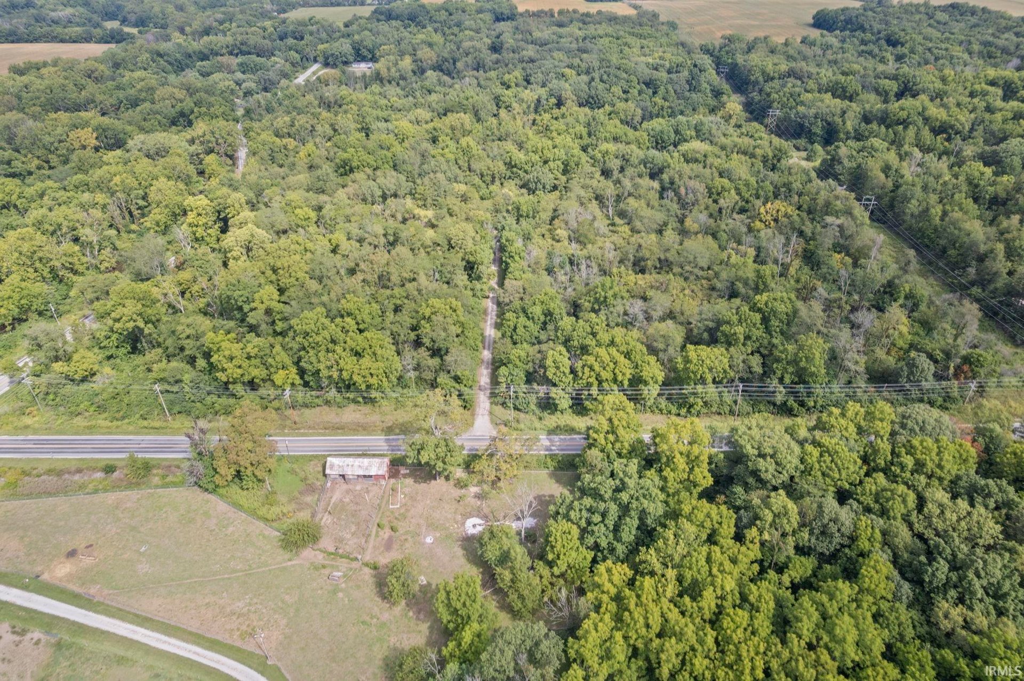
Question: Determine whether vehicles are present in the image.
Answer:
No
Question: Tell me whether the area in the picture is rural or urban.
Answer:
rural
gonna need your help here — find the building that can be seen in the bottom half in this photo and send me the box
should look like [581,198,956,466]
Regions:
[324,455,390,487]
